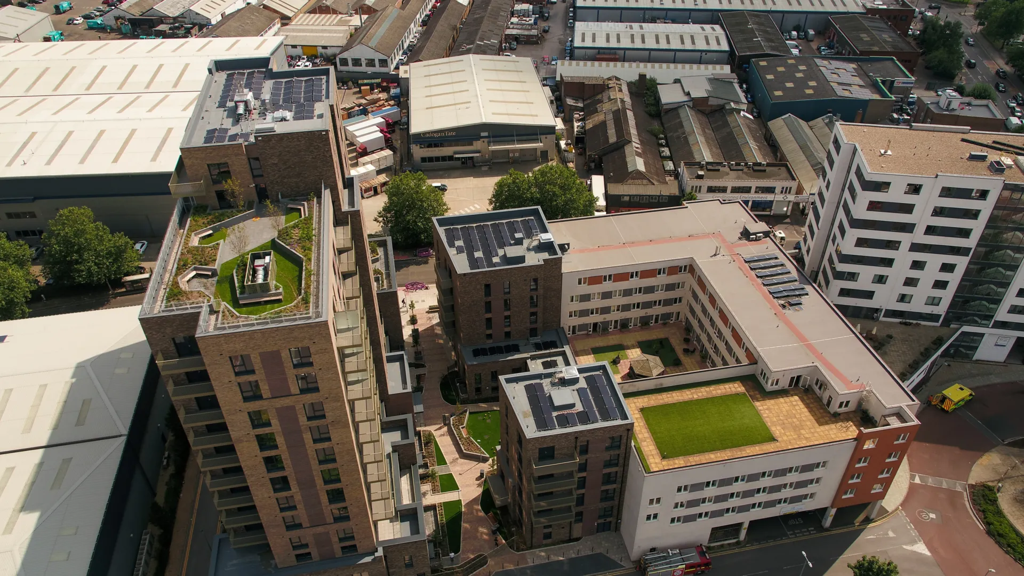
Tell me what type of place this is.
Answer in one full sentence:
The picture captures an industrial area.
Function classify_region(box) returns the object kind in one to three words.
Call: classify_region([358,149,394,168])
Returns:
vehicle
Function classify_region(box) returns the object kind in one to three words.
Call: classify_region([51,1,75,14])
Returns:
vehicle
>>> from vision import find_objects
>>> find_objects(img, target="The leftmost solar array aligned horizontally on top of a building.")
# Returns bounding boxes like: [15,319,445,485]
[201,128,251,142]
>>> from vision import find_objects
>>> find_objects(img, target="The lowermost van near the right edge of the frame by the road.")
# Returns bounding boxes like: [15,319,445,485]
[928,383,977,414]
